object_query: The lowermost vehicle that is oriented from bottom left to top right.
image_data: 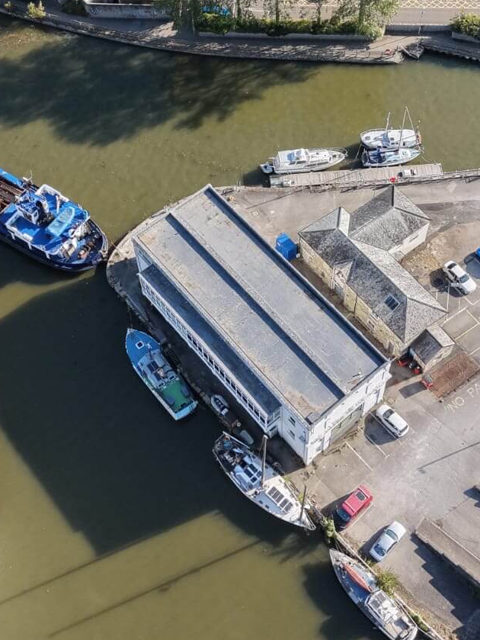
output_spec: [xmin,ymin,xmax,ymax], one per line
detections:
[368,514,410,567]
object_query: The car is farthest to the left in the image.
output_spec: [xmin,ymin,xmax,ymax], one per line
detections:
[333,481,376,532]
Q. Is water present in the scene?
Yes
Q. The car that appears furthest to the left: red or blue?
red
